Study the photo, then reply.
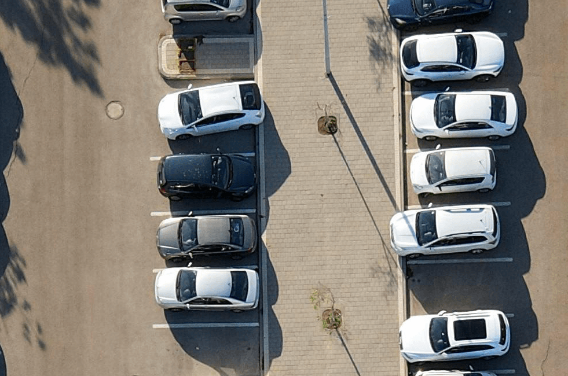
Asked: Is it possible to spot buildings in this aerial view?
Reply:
No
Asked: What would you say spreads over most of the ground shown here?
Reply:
paved ground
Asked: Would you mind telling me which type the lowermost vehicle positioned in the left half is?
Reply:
automobile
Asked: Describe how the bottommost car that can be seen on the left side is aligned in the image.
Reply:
from left to right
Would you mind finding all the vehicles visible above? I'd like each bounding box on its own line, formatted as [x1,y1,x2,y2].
[410,141,496,196]
[409,81,519,139]
[389,199,500,257]
[155,260,258,312]
[158,80,264,140]
[157,208,258,262]
[400,24,504,85]
[399,305,510,361]
[386,0,496,29]
[157,146,257,200]
[161,0,247,24]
